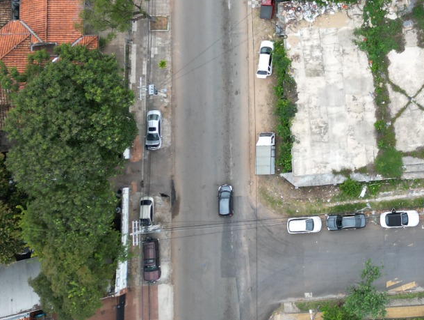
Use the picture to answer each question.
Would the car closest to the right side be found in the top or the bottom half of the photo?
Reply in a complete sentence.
Seen from above, the car closest to the right side lies in the bottom half of the view.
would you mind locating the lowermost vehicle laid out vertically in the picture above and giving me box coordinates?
[139,236,161,282]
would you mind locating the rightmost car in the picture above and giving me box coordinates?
[381,209,420,229]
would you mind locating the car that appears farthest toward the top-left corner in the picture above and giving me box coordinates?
[142,110,164,150]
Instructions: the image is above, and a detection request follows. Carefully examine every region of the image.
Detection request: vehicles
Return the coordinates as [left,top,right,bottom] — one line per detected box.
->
[381,209,420,229]
[142,110,164,150]
[252,131,275,176]
[135,196,155,229]
[259,0,276,20]
[287,216,323,235]
[215,184,235,217]
[326,212,366,233]
[254,39,275,78]
[139,236,161,282]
